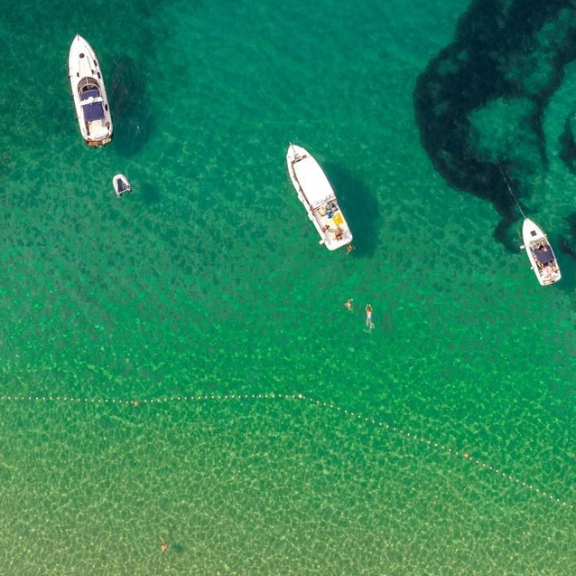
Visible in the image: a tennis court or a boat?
boat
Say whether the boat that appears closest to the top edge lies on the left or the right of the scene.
left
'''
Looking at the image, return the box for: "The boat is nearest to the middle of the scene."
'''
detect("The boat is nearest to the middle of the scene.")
[289,140,350,250]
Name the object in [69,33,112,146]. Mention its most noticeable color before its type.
white boat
